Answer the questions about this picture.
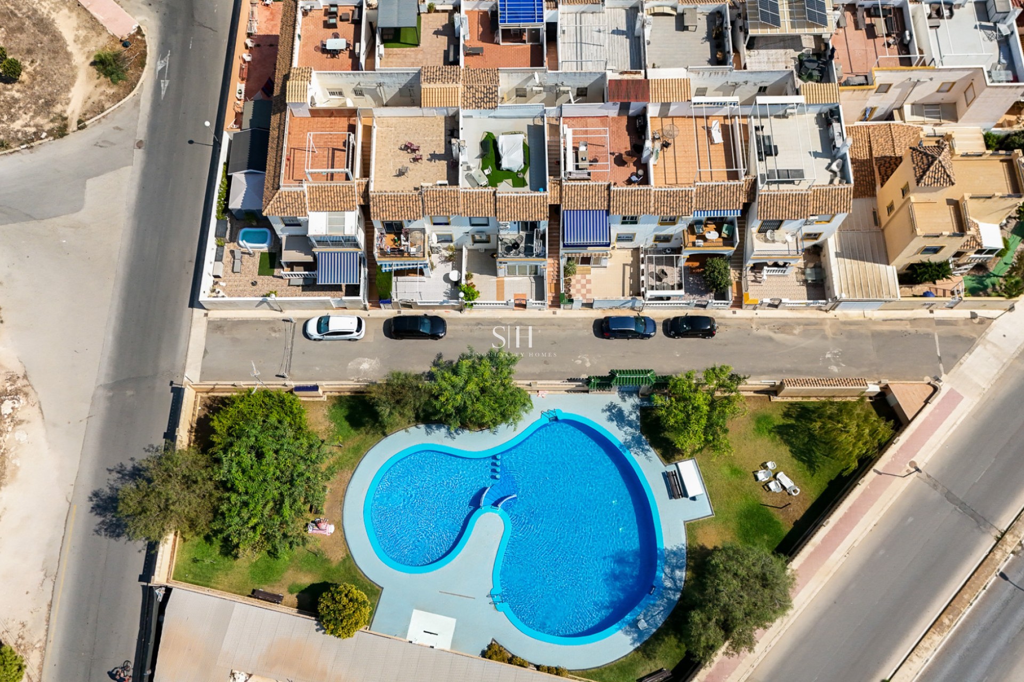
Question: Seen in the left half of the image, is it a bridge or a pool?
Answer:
pool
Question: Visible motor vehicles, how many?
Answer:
4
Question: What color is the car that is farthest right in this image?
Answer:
black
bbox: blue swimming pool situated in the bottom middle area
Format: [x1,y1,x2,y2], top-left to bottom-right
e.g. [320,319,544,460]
[363,407,665,647]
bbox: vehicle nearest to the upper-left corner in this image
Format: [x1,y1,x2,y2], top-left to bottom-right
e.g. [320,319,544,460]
[308,314,366,342]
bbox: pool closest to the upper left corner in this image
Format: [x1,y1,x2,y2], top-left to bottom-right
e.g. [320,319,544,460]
[237,229,274,251]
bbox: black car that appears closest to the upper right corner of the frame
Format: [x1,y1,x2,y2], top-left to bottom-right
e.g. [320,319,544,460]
[666,314,718,341]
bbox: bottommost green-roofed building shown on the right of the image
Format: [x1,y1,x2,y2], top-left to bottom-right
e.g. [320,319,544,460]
[586,367,690,405]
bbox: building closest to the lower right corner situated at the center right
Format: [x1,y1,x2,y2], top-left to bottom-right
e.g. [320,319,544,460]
[877,383,938,424]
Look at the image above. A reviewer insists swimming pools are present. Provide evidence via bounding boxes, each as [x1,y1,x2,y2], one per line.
[363,407,665,647]
[237,229,274,251]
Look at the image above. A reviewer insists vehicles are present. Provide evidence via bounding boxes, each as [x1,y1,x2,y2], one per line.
[666,314,718,341]
[601,314,657,342]
[390,313,448,341]
[308,314,366,342]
